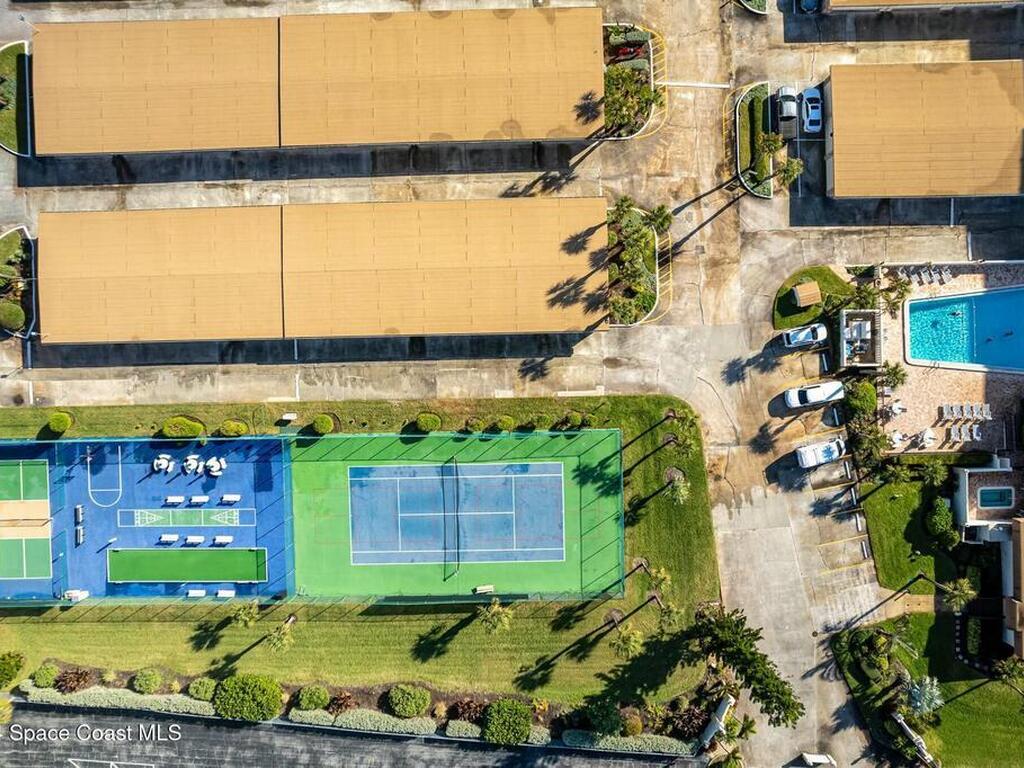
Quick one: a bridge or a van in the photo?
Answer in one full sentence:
I can see a van in this picture.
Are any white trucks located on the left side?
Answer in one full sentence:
No, no white truck is visible on the left side.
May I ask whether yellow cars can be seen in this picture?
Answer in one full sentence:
No, the photo shows no yellow car.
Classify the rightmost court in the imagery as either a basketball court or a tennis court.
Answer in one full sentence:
The rightmost court appears to be a tennis court.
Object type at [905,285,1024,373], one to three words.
swimming pool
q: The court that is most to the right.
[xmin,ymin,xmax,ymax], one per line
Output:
[292,429,622,598]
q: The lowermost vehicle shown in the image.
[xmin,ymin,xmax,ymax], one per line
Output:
[796,439,843,468]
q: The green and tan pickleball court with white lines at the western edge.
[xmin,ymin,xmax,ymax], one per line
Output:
[0,459,52,580]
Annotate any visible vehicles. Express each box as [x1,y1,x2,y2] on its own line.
[782,381,845,408]
[801,90,823,134]
[775,89,799,140]
[783,324,827,348]
[796,439,843,468]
